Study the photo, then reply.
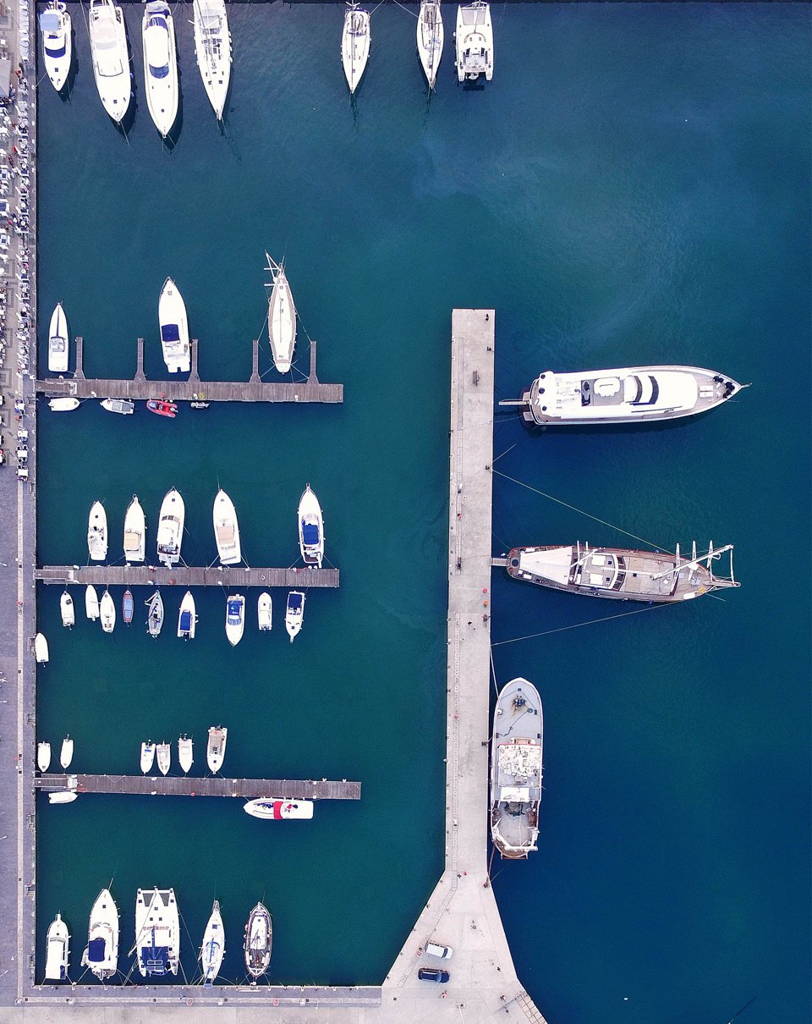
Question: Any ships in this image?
Yes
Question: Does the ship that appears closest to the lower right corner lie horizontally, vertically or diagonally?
vertically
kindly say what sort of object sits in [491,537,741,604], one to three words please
vessel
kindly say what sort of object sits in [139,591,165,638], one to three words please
boat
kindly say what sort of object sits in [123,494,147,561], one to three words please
boat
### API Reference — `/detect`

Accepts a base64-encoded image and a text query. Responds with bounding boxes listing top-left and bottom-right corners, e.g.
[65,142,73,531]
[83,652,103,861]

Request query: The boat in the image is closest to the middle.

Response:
[297,484,326,568]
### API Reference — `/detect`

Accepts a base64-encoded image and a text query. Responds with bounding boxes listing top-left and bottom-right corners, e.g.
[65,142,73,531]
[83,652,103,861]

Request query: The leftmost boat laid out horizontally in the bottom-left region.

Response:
[46,792,78,805]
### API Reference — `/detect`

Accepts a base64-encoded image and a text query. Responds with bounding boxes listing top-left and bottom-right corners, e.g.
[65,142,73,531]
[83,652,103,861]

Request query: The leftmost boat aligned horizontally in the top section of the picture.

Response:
[47,397,80,411]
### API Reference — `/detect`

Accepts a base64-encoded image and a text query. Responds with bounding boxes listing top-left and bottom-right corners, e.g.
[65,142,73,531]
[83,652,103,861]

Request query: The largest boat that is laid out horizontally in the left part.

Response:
[243,797,315,819]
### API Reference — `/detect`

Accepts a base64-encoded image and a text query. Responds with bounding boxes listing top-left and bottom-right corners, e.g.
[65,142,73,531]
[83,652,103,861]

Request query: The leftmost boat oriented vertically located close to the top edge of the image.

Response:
[40,0,74,92]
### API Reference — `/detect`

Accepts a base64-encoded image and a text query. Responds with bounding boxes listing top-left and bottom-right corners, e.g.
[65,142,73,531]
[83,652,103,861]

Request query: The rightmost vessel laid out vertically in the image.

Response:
[489,678,546,860]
